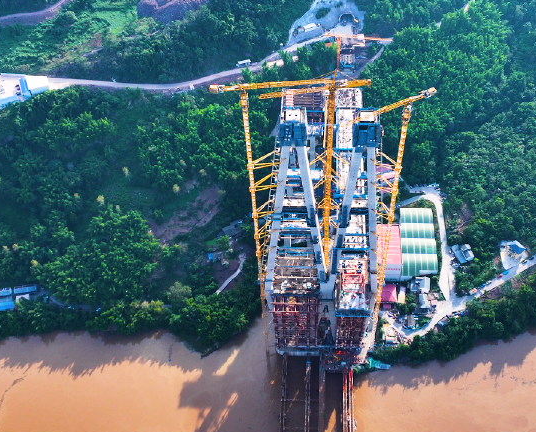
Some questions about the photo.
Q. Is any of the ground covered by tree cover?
Yes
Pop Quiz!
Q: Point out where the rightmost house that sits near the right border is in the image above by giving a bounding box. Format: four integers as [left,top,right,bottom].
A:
[504,241,526,267]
